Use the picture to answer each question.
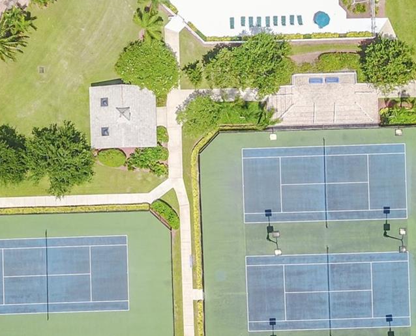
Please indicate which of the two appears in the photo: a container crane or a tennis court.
tennis court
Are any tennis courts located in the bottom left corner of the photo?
Yes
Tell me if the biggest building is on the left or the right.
left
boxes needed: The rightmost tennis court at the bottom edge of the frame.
[246,247,411,336]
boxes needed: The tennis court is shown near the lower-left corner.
[0,231,130,321]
